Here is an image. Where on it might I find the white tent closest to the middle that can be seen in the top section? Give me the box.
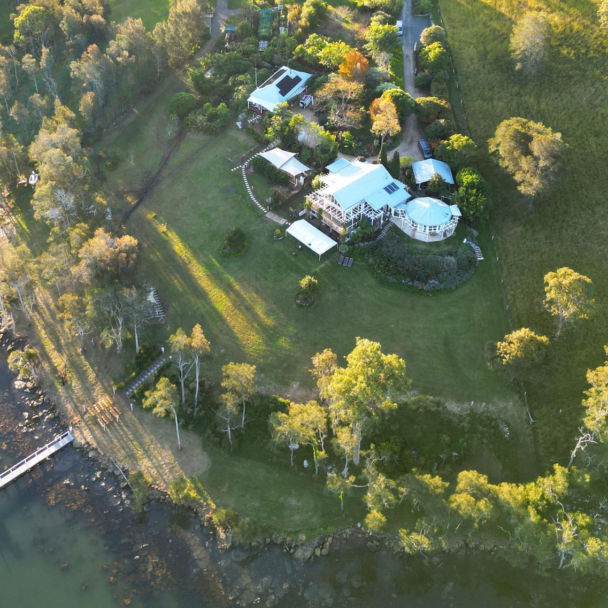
[284,221,338,264]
